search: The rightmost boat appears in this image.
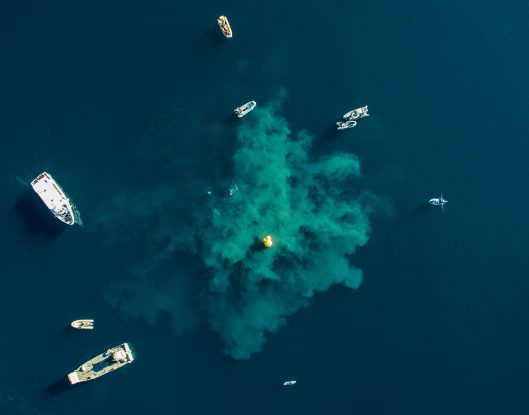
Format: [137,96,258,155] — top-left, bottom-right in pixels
[428,190,450,212]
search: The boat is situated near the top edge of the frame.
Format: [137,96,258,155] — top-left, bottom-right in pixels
[216,13,232,38]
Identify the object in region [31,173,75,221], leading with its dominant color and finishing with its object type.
white ship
